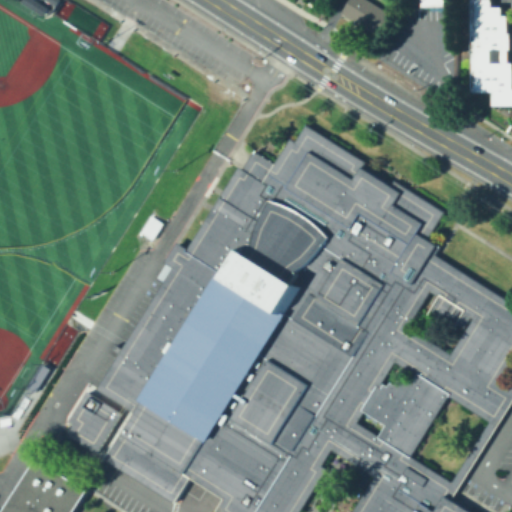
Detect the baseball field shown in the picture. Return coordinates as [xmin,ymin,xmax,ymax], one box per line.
[0,0,203,414]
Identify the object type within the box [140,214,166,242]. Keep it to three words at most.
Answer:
shed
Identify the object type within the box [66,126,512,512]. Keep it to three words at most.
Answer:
building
